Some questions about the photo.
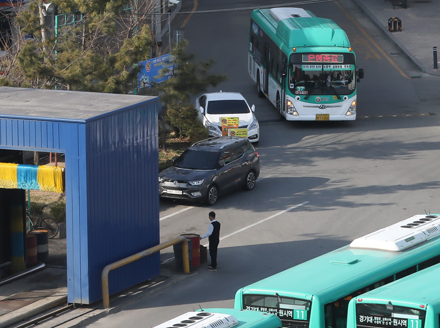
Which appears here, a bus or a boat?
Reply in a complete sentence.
I can see a bus in this picture.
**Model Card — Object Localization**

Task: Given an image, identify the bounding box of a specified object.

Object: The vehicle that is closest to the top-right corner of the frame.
[248,9,368,122]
